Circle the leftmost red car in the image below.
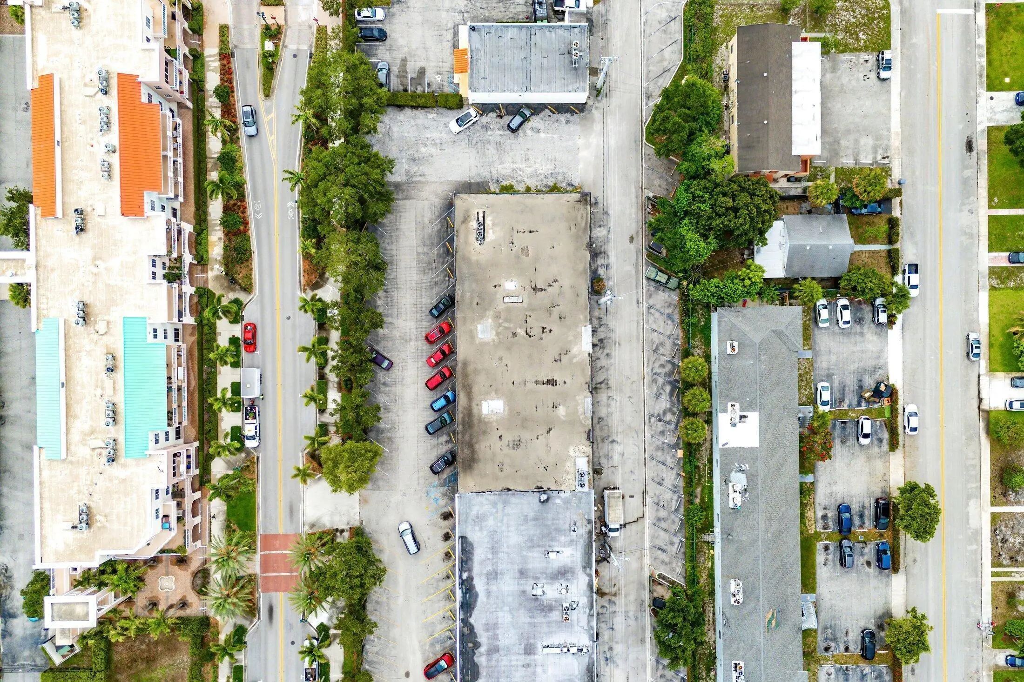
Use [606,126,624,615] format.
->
[242,322,258,352]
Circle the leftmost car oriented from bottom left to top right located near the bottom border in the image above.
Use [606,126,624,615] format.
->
[425,652,453,680]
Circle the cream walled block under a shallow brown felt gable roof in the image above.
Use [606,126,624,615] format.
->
[727,22,822,187]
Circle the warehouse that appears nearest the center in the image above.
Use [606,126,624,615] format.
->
[454,192,592,493]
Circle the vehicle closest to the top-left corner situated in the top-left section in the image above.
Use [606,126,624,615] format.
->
[241,104,258,137]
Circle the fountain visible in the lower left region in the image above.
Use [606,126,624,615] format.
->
[158,576,174,592]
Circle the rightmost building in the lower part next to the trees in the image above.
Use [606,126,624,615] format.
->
[709,305,817,682]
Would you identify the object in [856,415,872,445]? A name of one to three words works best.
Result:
car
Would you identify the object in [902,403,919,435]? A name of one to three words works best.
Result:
car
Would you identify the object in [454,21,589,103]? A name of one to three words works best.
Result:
building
